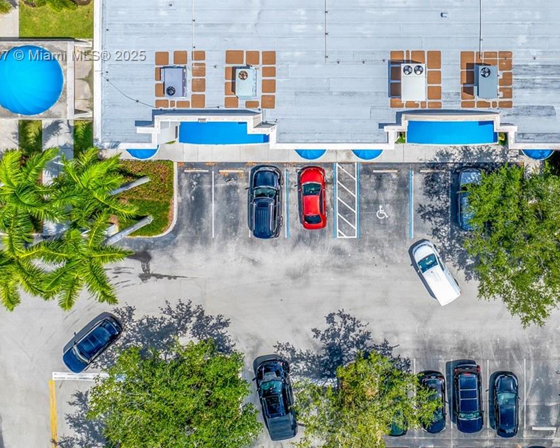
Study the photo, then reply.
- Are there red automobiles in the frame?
Yes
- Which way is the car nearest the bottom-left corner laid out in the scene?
at an angle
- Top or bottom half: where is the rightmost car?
bottom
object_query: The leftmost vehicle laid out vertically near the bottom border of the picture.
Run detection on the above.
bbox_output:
[256,359,294,443]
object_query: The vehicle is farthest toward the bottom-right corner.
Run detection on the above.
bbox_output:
[490,372,521,440]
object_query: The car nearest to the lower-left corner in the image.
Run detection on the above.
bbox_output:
[66,315,124,368]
